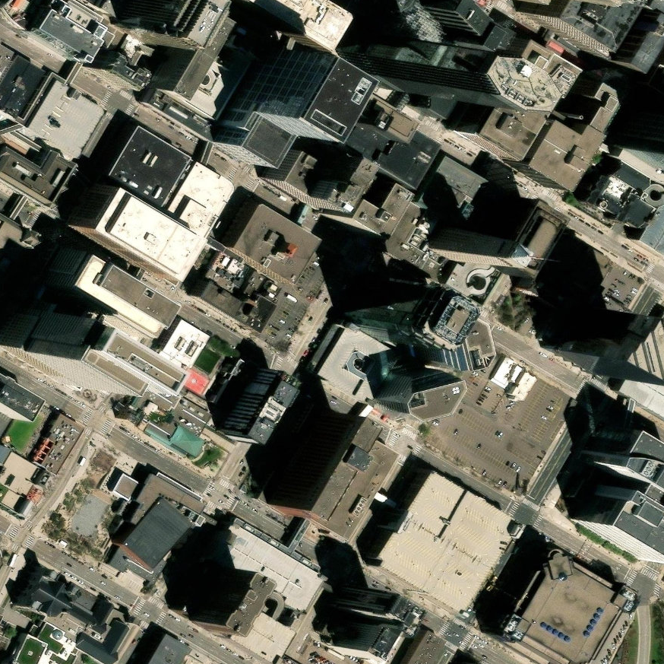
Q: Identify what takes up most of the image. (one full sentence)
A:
The scene is dominated by buildings.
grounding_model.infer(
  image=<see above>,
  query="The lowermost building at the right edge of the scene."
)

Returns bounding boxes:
[486,555,634,664]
